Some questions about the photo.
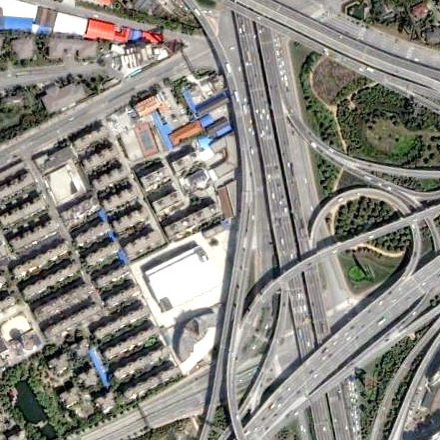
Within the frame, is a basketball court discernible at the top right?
No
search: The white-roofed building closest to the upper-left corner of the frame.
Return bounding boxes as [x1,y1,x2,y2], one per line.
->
[0,0,38,20]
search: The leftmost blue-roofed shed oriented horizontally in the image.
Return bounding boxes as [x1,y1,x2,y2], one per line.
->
[0,17,35,33]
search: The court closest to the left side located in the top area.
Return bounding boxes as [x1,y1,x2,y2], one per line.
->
[134,122,159,157]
